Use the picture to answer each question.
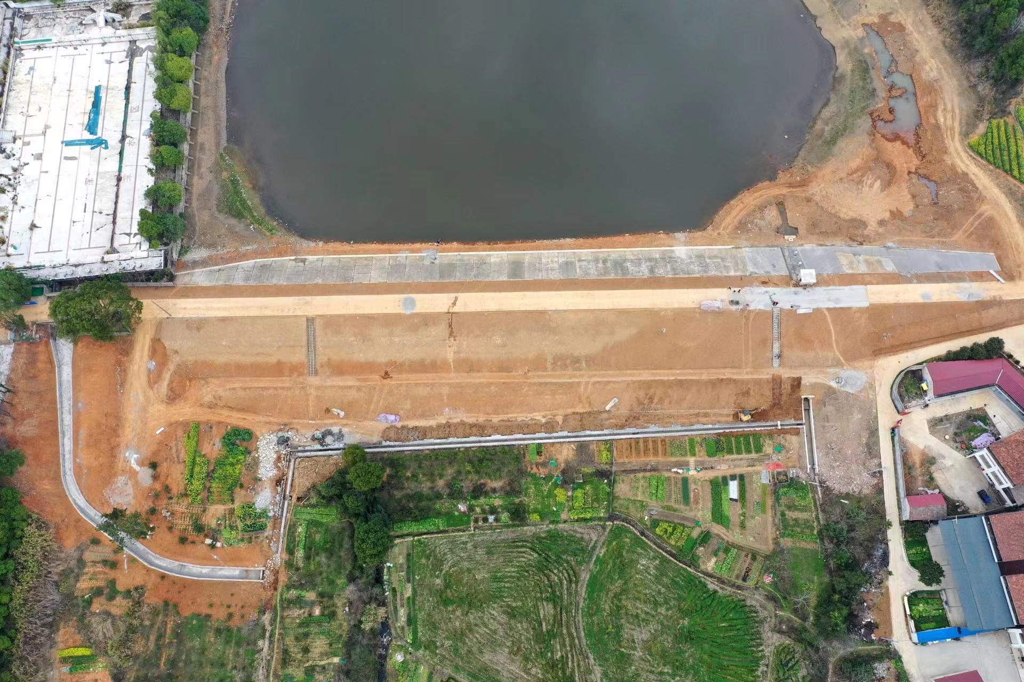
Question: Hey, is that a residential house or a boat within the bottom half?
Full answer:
Visible within the bottom half is a residential house.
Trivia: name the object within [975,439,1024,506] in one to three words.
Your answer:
house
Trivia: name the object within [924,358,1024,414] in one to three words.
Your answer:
building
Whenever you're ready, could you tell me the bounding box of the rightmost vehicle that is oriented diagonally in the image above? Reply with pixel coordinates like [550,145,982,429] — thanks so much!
[977,487,994,505]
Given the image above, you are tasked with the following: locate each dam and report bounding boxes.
[134,230,1024,447]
